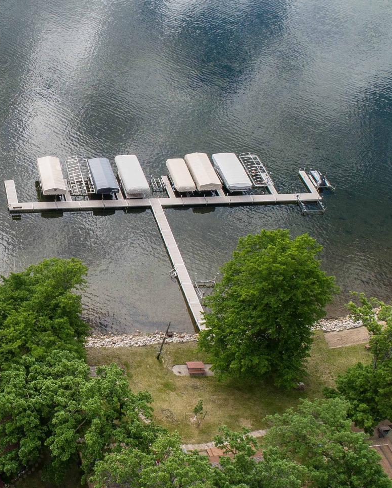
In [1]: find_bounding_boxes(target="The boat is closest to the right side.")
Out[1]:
[311,174,331,189]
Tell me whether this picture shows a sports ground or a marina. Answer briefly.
marina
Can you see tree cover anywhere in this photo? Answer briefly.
Yes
